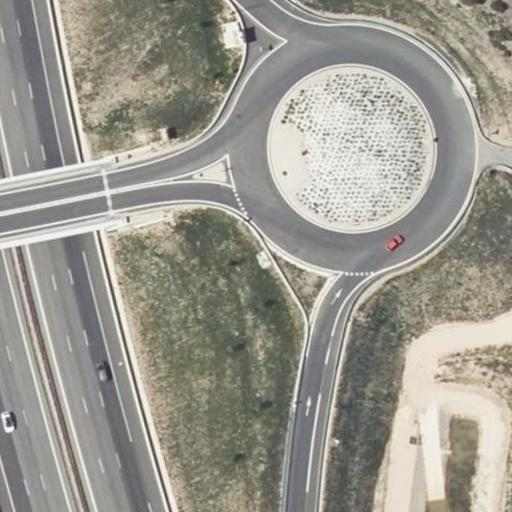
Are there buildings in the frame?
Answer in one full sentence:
No, the picture doesn't show any building.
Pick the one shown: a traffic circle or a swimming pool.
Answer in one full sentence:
There is a traffic circle in the scene.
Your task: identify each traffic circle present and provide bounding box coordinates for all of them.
[228,24,482,275]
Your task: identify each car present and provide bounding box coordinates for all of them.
[2,410,14,434]
[97,361,110,383]
[386,234,405,250]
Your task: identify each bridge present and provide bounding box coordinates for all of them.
[0,157,129,248]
